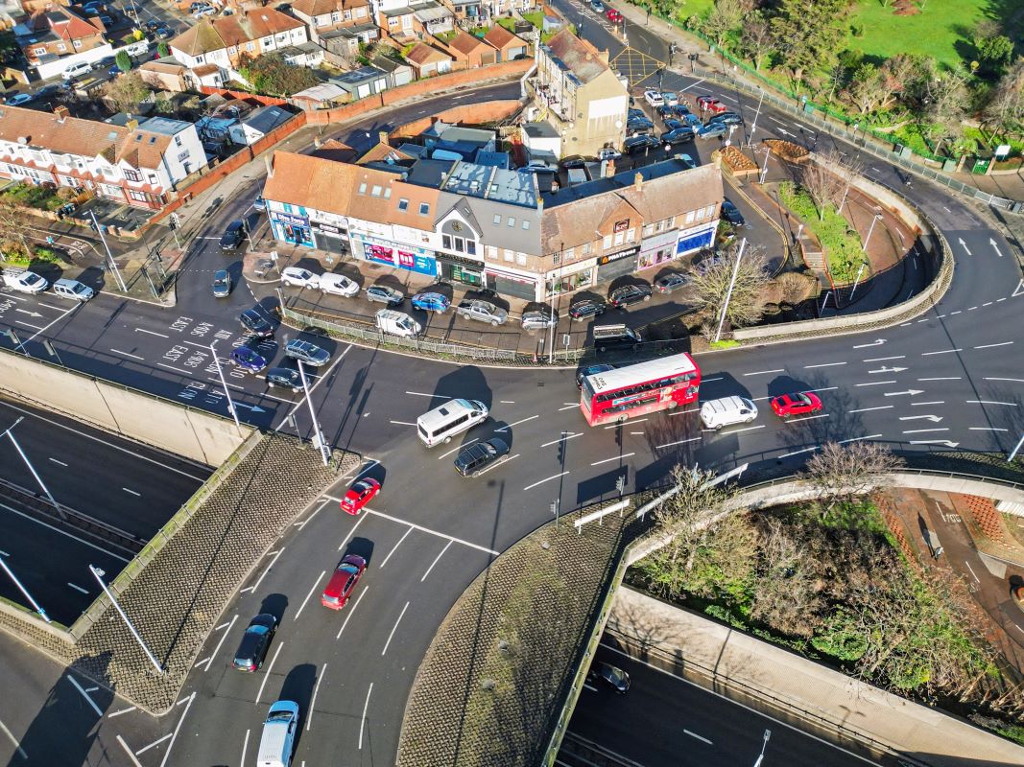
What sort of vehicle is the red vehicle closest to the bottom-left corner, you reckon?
automobile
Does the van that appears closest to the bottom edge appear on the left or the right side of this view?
left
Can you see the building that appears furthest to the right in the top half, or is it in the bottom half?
top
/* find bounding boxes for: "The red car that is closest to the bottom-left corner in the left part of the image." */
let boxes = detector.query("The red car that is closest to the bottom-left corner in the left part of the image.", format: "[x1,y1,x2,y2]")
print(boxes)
[319,556,368,613]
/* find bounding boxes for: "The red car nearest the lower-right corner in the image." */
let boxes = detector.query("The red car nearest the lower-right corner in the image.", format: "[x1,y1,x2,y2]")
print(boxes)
[769,391,820,419]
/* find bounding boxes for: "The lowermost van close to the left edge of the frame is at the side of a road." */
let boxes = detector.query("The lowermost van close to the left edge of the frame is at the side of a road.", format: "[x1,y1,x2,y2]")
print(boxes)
[2,266,44,294]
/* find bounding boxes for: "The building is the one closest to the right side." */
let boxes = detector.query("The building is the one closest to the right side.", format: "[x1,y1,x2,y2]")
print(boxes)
[647,151,730,258]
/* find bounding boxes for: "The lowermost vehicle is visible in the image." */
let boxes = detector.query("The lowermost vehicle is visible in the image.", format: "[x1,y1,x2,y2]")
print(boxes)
[255,702,301,767]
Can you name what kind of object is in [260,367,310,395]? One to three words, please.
car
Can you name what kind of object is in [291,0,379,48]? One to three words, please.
house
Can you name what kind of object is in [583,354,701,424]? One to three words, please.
bus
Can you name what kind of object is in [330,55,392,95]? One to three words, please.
building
